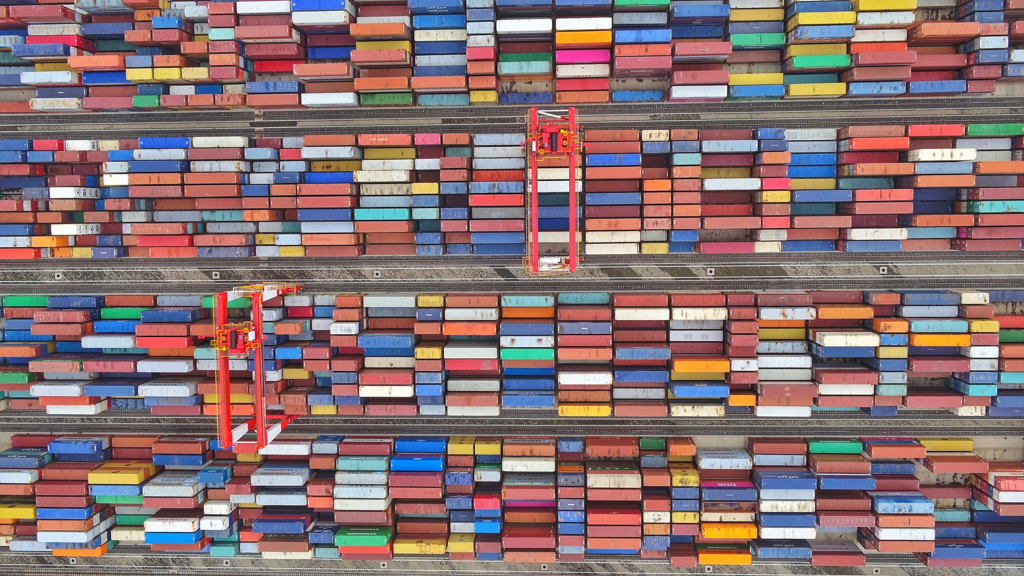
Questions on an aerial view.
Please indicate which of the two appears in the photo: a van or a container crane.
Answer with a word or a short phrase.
container crane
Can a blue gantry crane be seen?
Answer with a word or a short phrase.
No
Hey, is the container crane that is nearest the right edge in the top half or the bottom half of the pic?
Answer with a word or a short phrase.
top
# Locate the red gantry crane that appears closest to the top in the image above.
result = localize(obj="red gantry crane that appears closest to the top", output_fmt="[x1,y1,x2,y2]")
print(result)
[517,106,589,277]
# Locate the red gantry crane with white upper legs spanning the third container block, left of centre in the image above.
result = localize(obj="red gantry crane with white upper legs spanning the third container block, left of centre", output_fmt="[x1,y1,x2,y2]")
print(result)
[206,280,306,447]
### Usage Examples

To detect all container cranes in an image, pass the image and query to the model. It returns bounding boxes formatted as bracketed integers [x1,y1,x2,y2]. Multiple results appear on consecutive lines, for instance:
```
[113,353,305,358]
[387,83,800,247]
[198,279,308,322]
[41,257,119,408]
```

[206,280,306,447]
[517,106,589,277]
